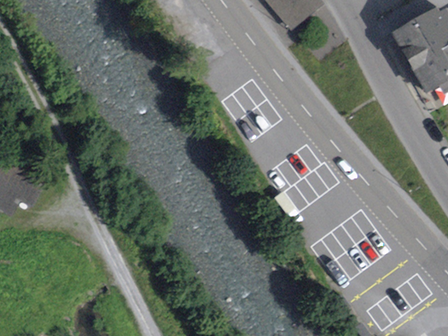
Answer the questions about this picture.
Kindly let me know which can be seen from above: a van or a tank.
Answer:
van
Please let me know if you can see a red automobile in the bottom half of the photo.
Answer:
Yes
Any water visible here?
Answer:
Yes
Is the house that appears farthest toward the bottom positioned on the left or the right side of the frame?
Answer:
left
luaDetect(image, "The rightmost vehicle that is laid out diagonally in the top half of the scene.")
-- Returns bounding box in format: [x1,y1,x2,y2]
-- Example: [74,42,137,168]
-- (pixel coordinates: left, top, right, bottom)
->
[425,119,442,142]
